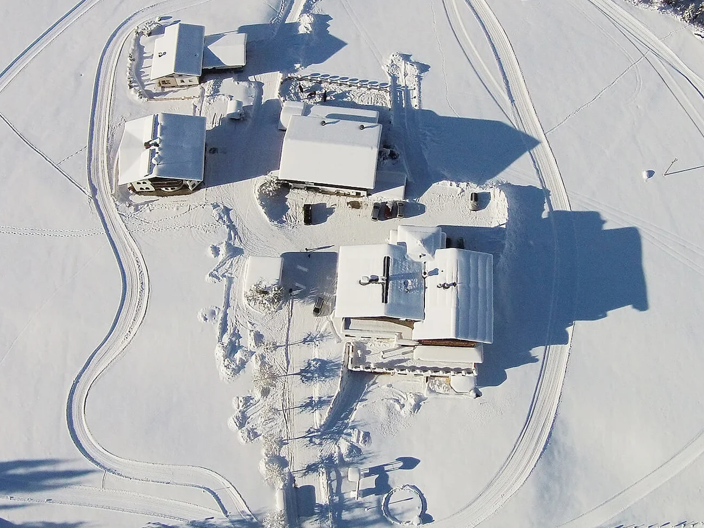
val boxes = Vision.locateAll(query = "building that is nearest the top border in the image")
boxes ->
[151,22,247,99]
